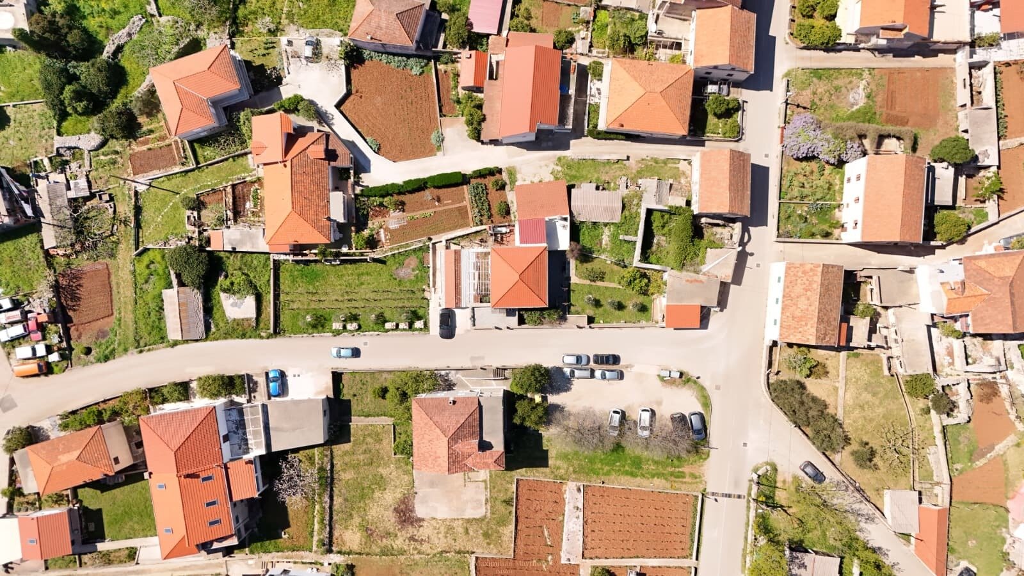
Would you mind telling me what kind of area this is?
residential area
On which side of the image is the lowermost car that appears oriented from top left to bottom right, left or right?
right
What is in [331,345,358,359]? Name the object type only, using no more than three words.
car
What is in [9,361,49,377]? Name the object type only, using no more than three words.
vehicle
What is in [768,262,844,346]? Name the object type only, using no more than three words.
house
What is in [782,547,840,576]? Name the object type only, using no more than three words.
barn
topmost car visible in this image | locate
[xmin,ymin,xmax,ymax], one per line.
[303,35,316,62]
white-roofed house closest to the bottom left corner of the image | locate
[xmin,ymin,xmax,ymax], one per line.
[0,508,31,565]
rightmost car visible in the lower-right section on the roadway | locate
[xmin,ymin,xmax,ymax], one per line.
[798,459,826,485]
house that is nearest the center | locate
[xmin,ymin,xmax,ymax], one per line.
[490,245,548,309]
